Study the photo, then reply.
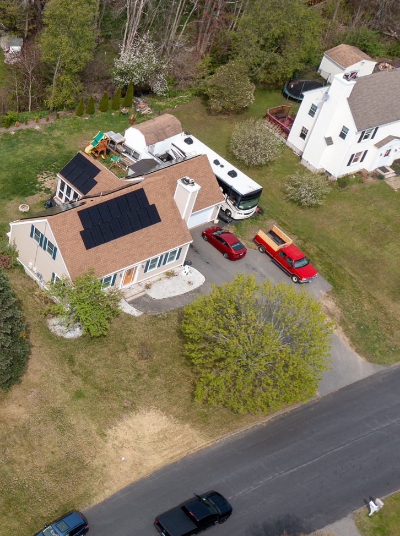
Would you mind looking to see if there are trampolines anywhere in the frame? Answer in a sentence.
Yes, a trampoline is visible in the scene.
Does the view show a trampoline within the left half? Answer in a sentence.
No, there is no trampoline within the left half.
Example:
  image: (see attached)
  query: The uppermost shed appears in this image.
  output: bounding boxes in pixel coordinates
[0,36,24,55]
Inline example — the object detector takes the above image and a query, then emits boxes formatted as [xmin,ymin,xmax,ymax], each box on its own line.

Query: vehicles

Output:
[171,138,268,222]
[33,507,93,536]
[155,491,239,536]
[256,230,320,284]
[201,225,248,260]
